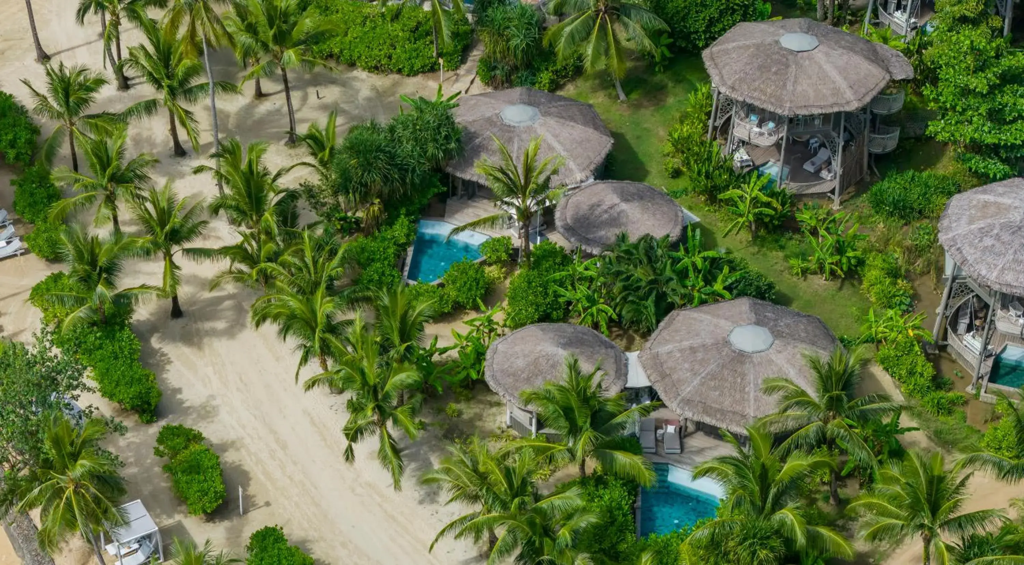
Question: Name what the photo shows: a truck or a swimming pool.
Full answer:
Looking from above, you can make out a swimming pool.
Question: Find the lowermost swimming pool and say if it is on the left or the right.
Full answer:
The lowermost swimming pool is on the right side of the image.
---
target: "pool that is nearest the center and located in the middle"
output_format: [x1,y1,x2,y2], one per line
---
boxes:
[402,216,497,291]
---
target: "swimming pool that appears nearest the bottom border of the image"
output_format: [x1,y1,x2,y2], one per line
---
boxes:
[635,458,729,555]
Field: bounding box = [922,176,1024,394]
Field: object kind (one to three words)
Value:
house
